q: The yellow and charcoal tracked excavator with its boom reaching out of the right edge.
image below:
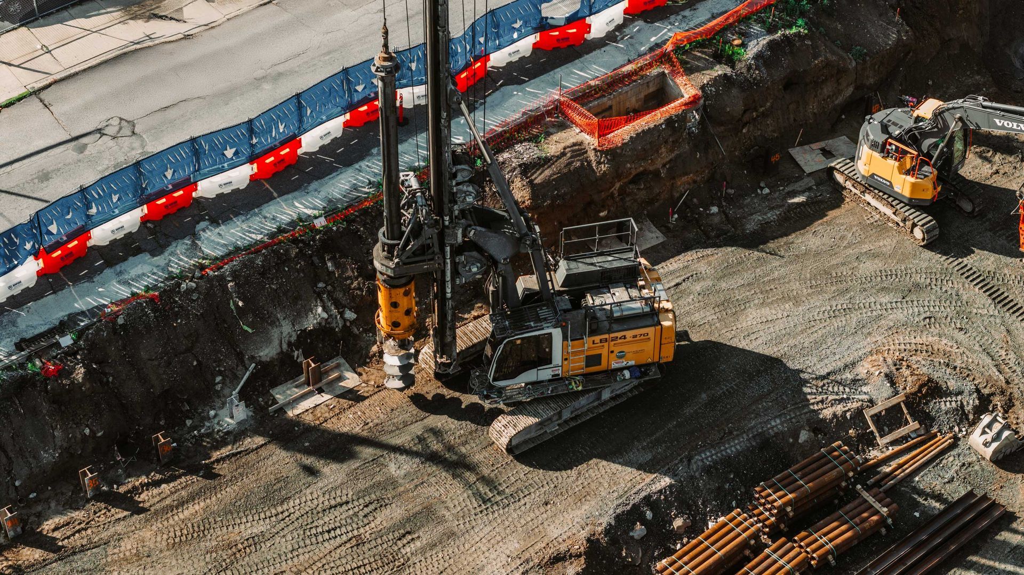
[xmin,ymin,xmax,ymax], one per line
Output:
[835,90,1024,248]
